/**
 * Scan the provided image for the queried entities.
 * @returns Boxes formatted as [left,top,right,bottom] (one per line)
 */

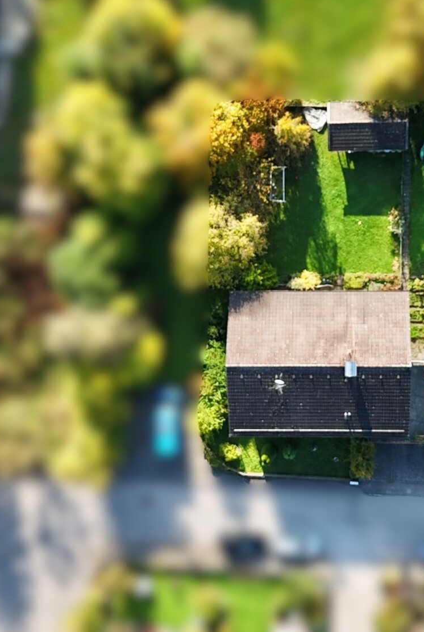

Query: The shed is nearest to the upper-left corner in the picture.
[26,188,58,214]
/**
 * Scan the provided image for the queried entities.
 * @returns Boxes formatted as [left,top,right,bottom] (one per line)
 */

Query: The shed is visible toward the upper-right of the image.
[329,98,410,154]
